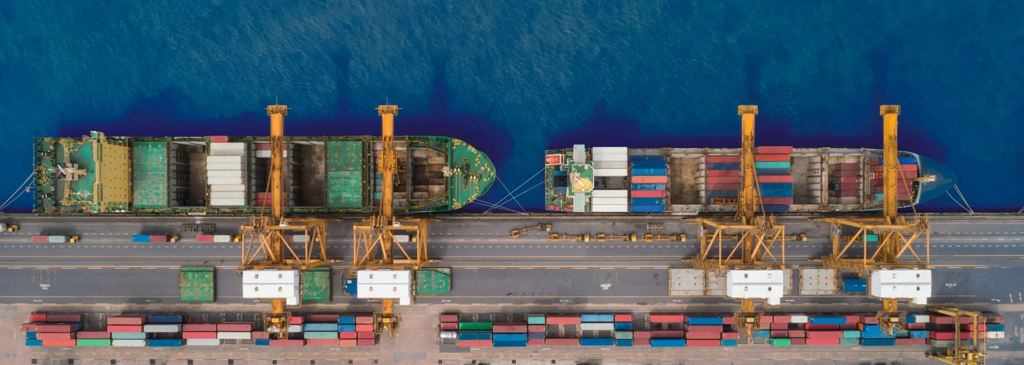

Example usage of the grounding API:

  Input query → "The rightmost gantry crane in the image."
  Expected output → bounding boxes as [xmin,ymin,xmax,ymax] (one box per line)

[928,307,984,365]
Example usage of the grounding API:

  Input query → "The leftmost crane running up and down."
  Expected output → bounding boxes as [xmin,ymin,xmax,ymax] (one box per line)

[234,95,351,342]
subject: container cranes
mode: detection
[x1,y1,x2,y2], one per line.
[346,95,449,342]
[682,95,787,342]
[809,95,933,342]
[234,95,351,342]
[928,307,984,365]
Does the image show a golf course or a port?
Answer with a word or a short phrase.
port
